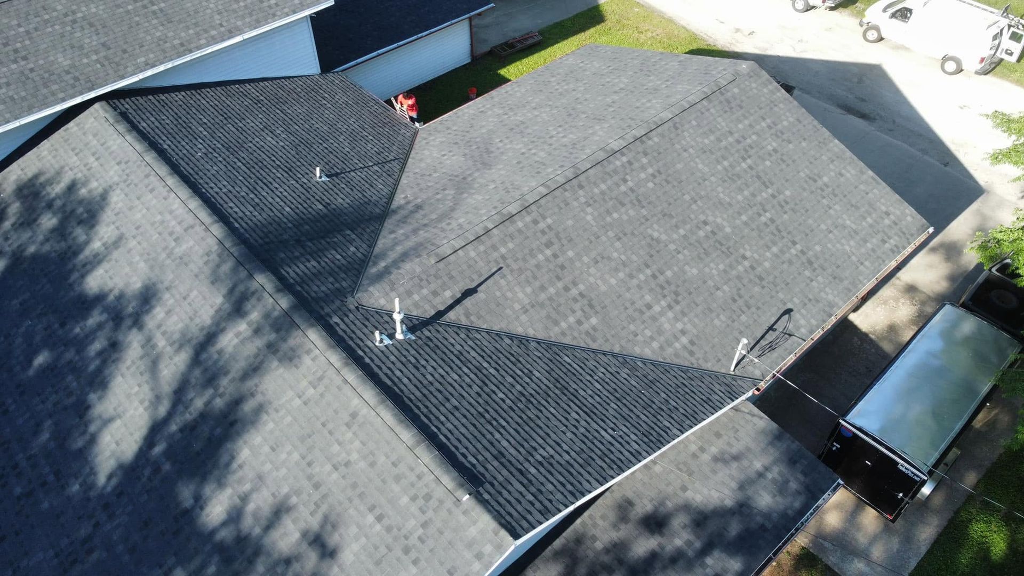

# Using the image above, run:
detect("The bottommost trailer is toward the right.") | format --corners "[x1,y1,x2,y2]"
[820,305,1024,520]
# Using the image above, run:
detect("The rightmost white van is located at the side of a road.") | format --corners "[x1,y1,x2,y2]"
[856,0,1024,79]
